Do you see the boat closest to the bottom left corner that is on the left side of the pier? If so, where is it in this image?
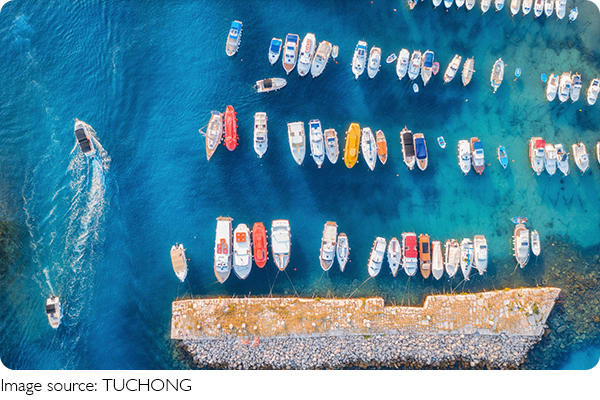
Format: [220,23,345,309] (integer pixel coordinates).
[46,295,62,329]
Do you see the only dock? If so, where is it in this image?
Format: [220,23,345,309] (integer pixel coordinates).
[171,286,560,339]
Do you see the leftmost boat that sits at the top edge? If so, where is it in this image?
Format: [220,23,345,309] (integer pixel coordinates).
[226,19,243,56]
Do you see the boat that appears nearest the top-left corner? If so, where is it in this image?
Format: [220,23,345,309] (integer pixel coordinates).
[73,117,96,159]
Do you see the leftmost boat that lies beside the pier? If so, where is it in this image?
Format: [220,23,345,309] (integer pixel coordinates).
[171,245,188,283]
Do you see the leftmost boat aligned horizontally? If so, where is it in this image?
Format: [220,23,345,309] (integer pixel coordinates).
[254,78,287,93]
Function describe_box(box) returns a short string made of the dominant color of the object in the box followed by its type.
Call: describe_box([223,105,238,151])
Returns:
red boat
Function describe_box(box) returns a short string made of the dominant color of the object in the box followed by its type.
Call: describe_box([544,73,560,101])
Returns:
white boat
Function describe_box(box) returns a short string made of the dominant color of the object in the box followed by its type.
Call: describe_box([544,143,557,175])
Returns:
white boat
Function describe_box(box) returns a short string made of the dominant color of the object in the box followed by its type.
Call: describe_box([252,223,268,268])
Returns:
red boat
